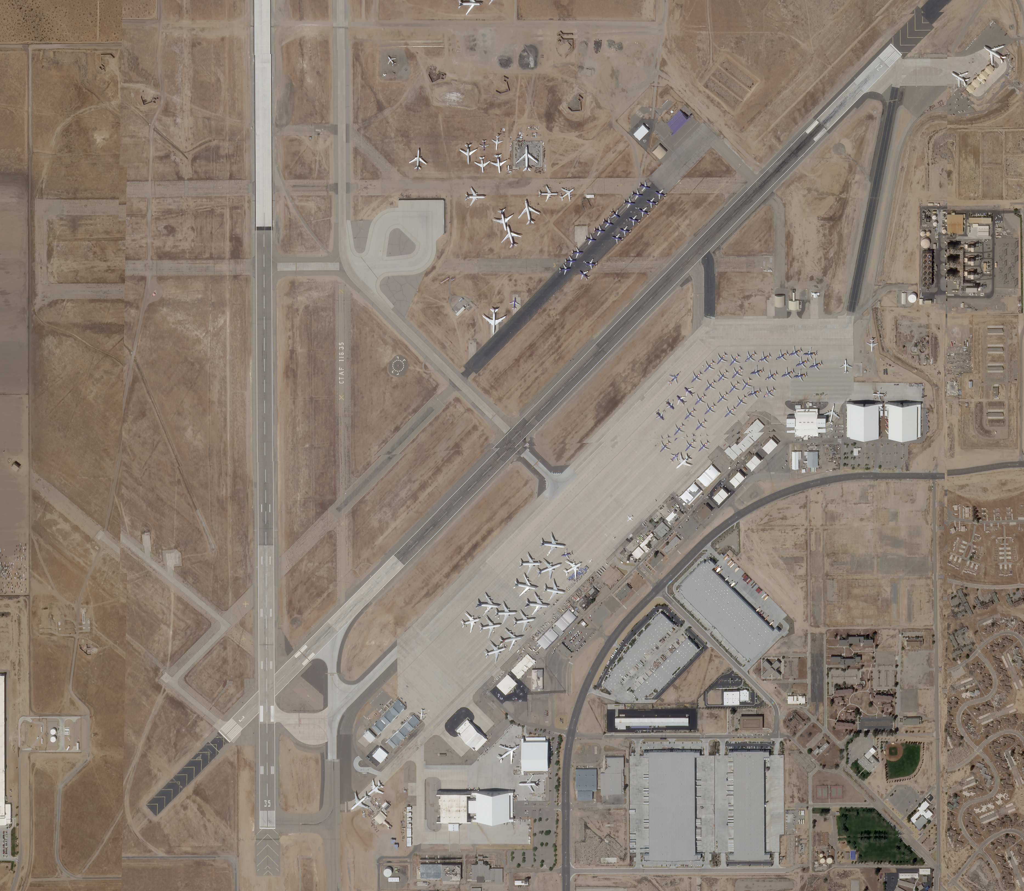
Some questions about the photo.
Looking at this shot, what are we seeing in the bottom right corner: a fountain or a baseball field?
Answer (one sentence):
The feature located in the bottom right corner is a baseball field.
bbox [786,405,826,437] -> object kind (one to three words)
hangar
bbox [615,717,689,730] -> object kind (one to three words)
building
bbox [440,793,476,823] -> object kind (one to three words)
hangar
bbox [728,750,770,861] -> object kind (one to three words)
building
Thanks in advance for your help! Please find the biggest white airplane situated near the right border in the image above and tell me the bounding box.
[984,46,1007,64]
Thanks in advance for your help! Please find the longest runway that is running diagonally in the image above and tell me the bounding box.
[255,45,900,705]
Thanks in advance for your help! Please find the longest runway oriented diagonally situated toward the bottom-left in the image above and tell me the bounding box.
[221,620,338,740]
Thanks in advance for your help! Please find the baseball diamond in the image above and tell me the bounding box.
[883,742,921,779]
